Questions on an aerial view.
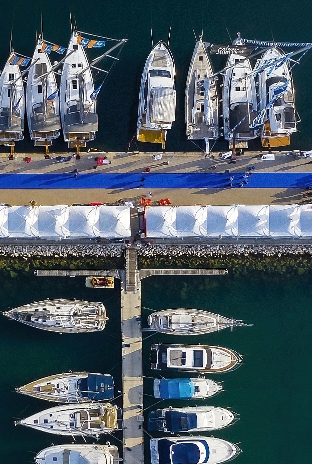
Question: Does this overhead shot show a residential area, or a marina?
marina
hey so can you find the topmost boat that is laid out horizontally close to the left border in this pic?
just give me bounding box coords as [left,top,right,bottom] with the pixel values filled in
[3,298,105,335]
